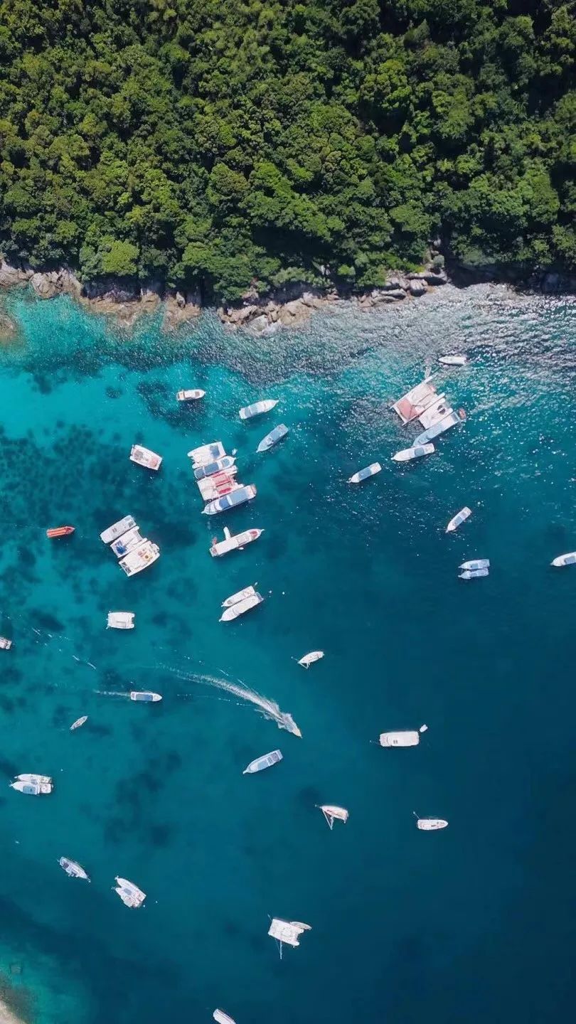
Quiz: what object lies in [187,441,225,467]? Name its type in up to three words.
boat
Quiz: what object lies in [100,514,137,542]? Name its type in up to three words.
boat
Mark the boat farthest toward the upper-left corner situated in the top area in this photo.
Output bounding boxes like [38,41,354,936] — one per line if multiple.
[176,388,205,401]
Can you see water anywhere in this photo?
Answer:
Yes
